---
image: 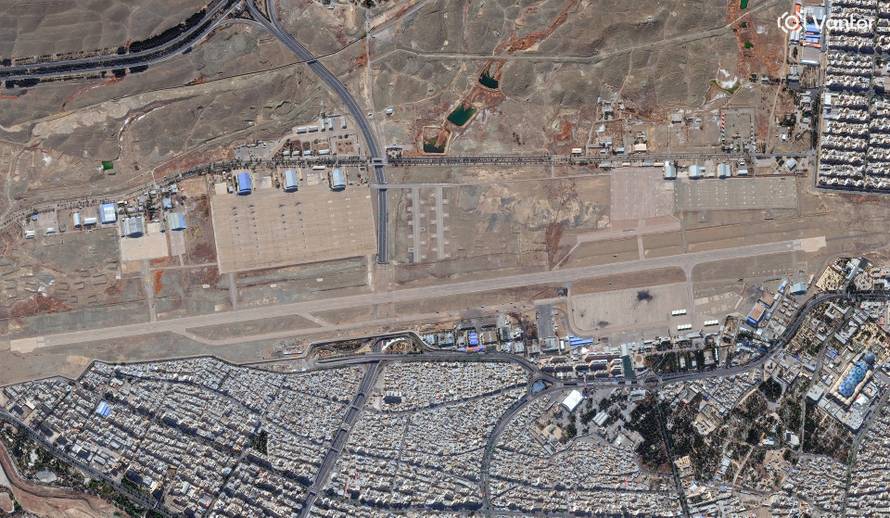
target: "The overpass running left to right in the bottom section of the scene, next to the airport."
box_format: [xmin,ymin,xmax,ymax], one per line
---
[322,353,395,367]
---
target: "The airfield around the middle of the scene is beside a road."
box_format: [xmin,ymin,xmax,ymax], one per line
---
[10,162,827,353]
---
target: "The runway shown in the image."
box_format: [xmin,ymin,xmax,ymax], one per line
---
[10,236,827,353]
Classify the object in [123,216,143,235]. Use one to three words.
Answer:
hangar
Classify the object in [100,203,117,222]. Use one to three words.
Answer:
building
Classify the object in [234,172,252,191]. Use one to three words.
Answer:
hangar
